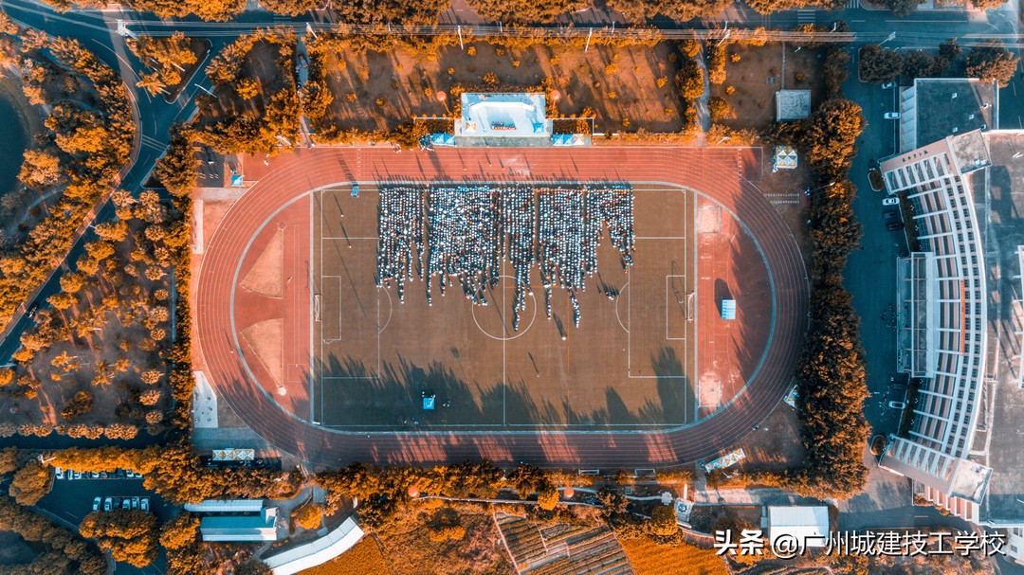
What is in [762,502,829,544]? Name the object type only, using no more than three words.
shed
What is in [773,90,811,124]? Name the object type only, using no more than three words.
shed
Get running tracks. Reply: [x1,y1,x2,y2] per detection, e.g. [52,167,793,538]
[196,147,811,466]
